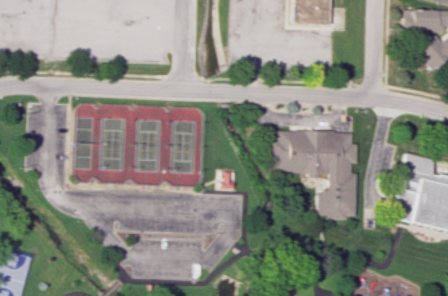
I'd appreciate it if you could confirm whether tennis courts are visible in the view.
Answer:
Yes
